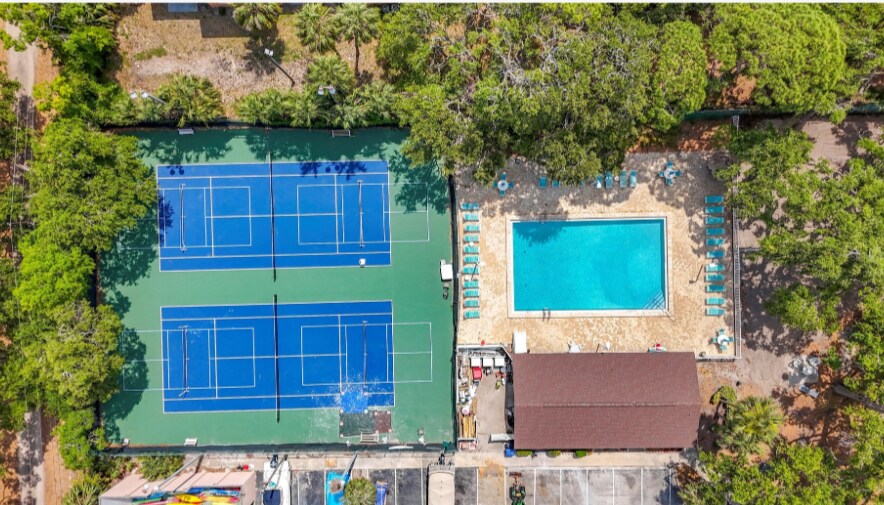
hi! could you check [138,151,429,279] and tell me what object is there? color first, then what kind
blue tennis court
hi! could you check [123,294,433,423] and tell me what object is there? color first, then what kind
blue tennis court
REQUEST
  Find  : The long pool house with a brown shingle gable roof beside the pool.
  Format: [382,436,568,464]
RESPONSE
[513,351,704,451]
